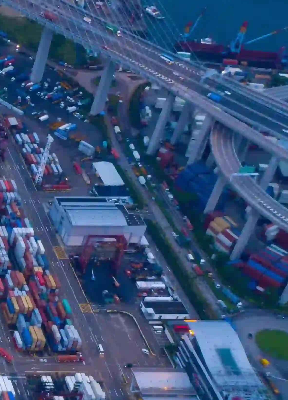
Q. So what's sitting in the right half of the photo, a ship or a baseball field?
ship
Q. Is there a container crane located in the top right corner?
No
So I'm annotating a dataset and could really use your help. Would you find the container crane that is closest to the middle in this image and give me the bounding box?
[72,221,127,259]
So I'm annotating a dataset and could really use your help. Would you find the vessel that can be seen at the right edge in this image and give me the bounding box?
[219,15,288,68]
